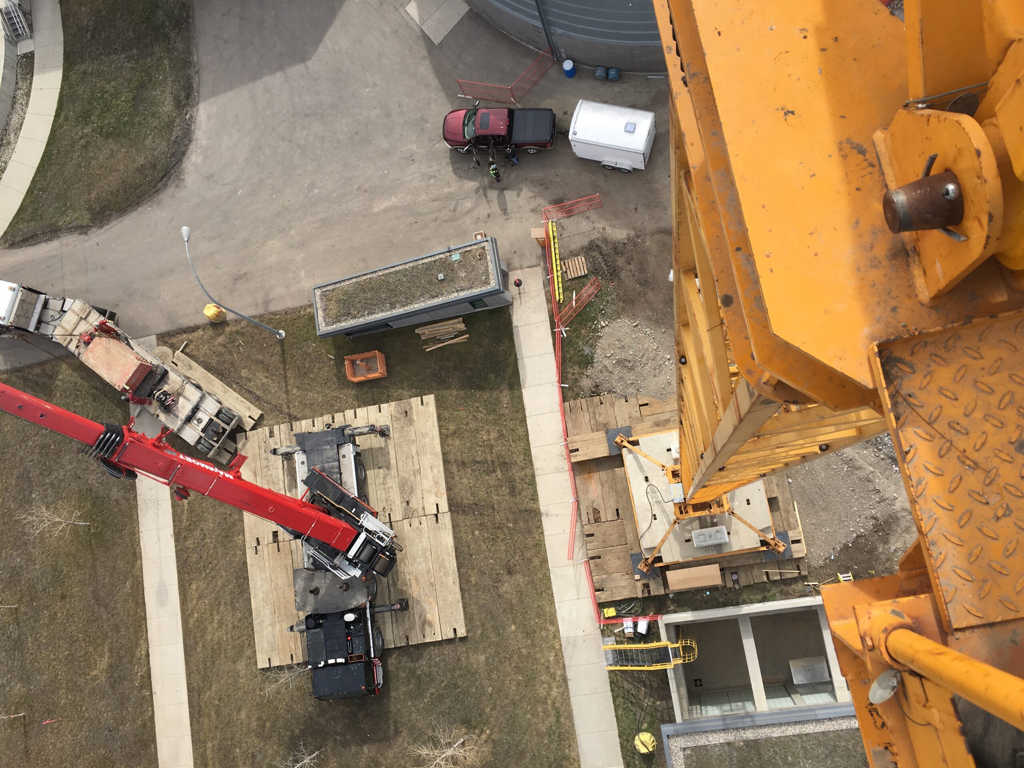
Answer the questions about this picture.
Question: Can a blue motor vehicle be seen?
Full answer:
No, the picture doesn't show any blue motor vehicle.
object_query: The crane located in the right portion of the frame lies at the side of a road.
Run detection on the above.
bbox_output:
[613,0,1024,768]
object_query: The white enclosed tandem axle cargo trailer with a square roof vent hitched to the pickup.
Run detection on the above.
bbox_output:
[555,100,656,171]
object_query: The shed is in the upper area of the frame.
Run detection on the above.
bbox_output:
[312,237,514,339]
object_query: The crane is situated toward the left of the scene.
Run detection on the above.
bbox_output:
[0,369,411,705]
